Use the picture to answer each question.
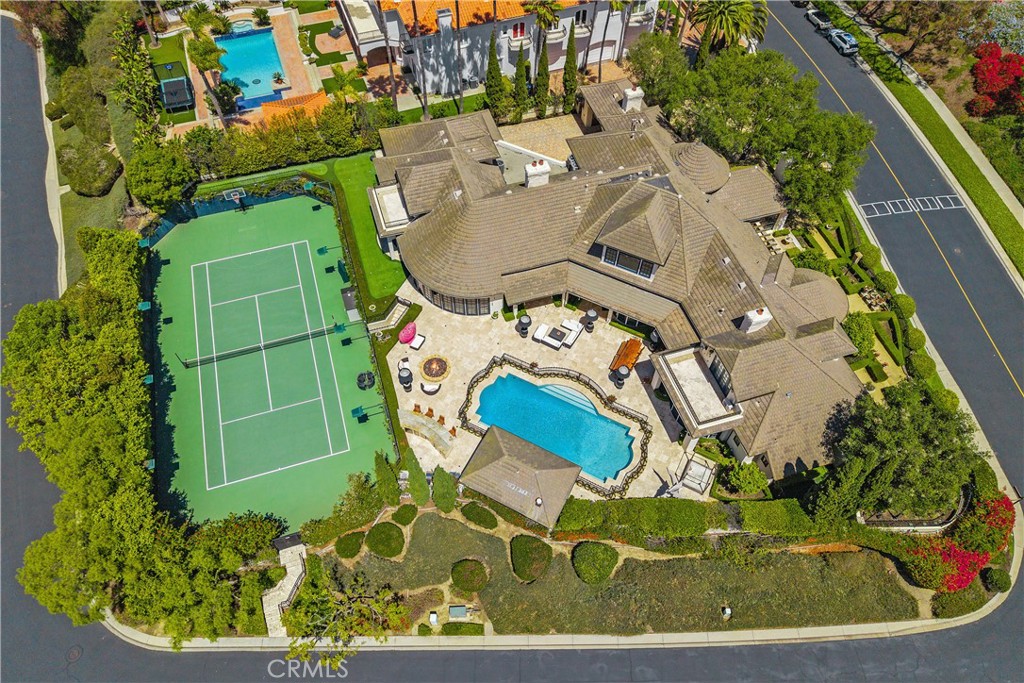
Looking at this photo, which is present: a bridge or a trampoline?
trampoline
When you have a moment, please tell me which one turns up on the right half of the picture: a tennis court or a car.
car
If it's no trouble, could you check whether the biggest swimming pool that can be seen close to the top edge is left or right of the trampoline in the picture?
right of it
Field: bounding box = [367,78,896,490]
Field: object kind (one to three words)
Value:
house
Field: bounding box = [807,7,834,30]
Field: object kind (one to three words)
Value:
car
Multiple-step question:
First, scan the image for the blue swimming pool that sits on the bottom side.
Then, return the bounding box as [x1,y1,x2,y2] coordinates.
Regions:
[468,366,642,489]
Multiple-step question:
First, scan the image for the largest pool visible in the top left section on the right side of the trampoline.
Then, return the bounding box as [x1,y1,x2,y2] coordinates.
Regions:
[213,27,291,104]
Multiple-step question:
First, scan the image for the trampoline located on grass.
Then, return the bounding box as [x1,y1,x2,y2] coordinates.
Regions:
[155,65,196,113]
